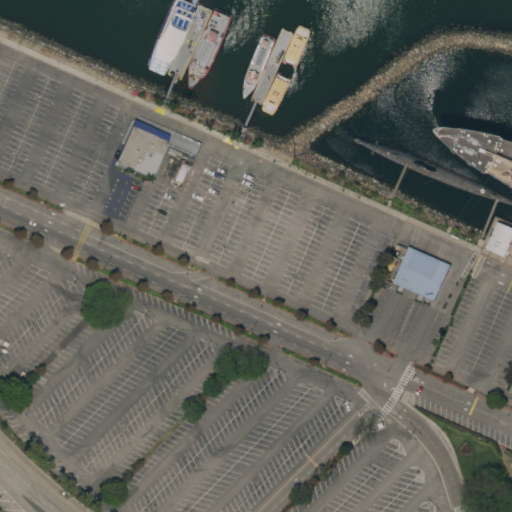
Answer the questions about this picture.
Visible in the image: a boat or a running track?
boat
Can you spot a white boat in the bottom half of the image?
No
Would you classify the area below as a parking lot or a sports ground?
parking lot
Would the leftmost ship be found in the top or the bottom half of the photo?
top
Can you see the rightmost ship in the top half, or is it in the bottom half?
top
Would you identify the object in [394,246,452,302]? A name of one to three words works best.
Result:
building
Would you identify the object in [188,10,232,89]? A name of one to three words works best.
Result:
boat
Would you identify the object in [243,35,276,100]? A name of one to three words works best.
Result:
boat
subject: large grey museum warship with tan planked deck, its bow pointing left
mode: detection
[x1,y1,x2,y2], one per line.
[434,127,512,190]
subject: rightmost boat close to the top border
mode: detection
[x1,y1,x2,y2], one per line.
[284,24,312,66]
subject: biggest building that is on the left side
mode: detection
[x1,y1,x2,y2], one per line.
[118,116,172,180]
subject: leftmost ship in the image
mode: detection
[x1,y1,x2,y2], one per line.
[148,0,201,76]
